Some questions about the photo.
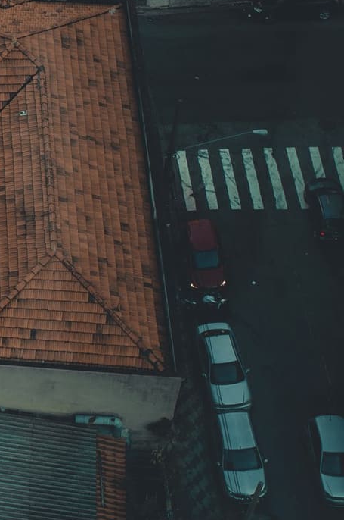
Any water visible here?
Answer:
No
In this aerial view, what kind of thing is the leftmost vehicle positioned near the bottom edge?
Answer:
automobile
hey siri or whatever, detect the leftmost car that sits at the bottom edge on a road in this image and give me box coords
[210,412,272,505]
